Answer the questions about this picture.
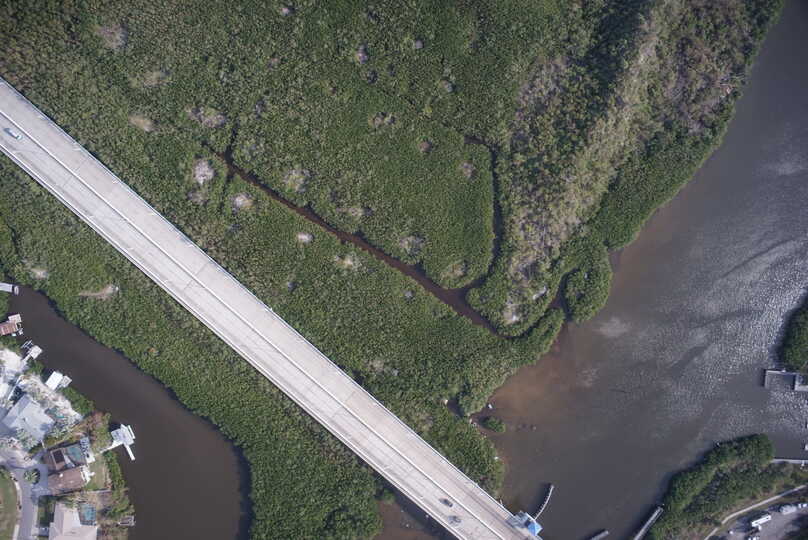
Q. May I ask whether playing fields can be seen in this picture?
No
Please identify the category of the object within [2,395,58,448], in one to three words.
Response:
house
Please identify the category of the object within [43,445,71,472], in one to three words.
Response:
building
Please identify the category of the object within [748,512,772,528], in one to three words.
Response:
camper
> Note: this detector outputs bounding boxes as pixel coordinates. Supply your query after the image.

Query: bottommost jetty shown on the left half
[99,423,137,461]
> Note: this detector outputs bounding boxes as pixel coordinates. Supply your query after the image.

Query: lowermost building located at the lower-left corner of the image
[55,501,100,540]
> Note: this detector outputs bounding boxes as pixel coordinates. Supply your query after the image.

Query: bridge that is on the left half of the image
[0,76,541,540]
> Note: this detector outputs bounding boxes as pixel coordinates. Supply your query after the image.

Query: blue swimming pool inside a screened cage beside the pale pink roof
[80,503,97,527]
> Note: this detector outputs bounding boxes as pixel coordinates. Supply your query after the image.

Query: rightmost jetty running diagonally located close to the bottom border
[626,504,664,540]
